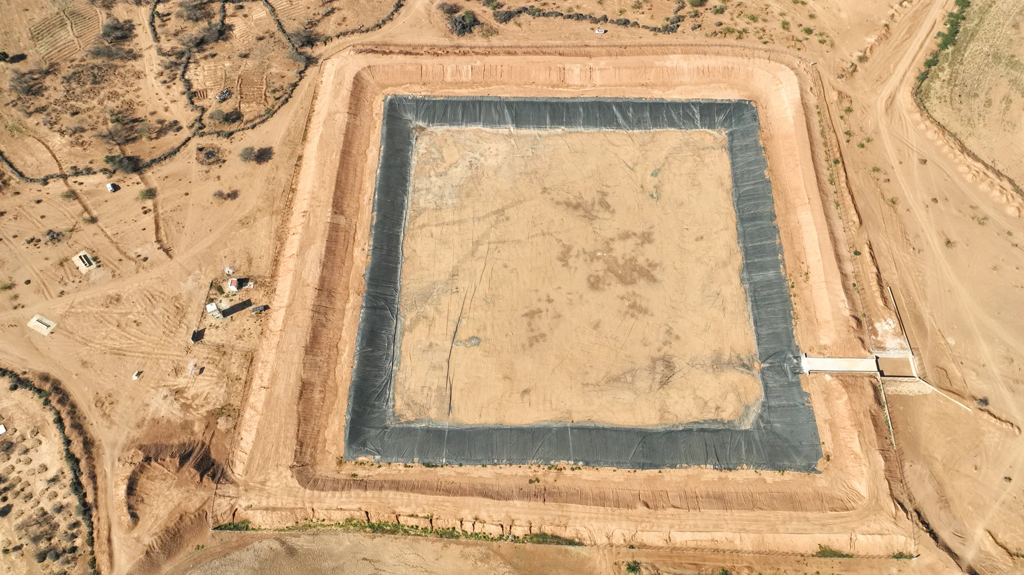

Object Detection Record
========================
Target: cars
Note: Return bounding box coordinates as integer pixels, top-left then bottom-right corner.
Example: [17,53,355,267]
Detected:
[107,183,114,192]
[596,28,605,33]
